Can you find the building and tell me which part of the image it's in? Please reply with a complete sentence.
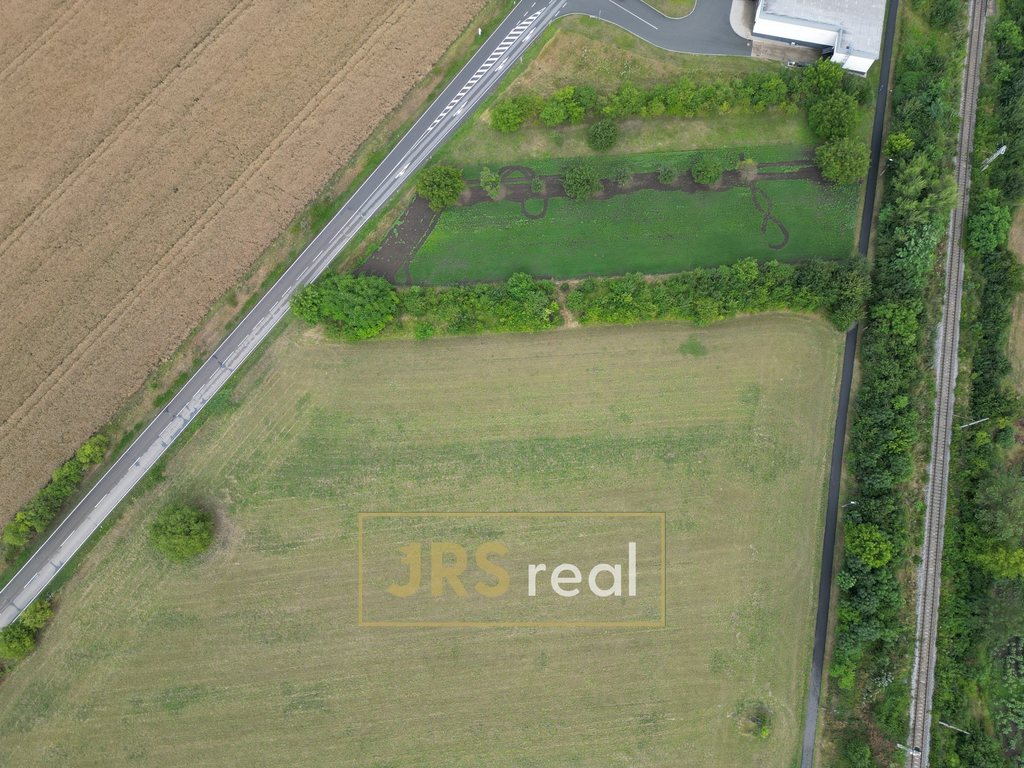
The building is in the top right part of the image.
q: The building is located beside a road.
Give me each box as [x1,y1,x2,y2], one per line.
[752,0,883,75]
